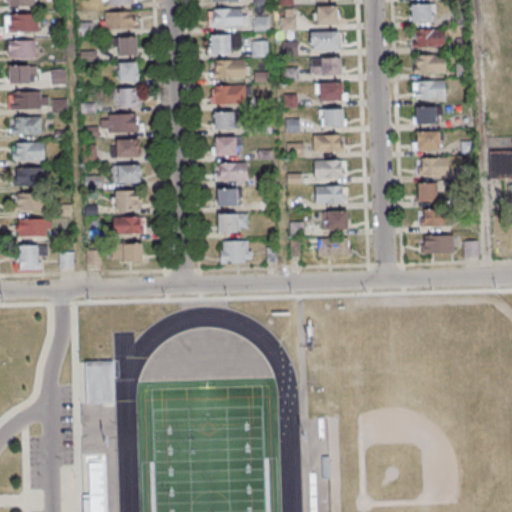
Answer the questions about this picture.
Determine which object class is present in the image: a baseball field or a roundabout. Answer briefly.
baseball field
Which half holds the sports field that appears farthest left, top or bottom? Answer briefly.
bottom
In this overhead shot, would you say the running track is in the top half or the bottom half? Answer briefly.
bottom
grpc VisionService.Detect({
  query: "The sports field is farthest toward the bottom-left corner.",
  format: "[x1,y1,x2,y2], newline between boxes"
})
[138,378,283,512]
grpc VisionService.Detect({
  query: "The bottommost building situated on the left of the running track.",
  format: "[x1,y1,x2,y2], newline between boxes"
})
[84,360,116,408]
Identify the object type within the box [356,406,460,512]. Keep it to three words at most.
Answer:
baseball field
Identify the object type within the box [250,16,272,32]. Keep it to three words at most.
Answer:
building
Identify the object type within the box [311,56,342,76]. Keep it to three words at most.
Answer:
house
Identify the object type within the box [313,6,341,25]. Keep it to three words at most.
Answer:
house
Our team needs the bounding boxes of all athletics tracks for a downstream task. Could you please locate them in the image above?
[114,308,304,512]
